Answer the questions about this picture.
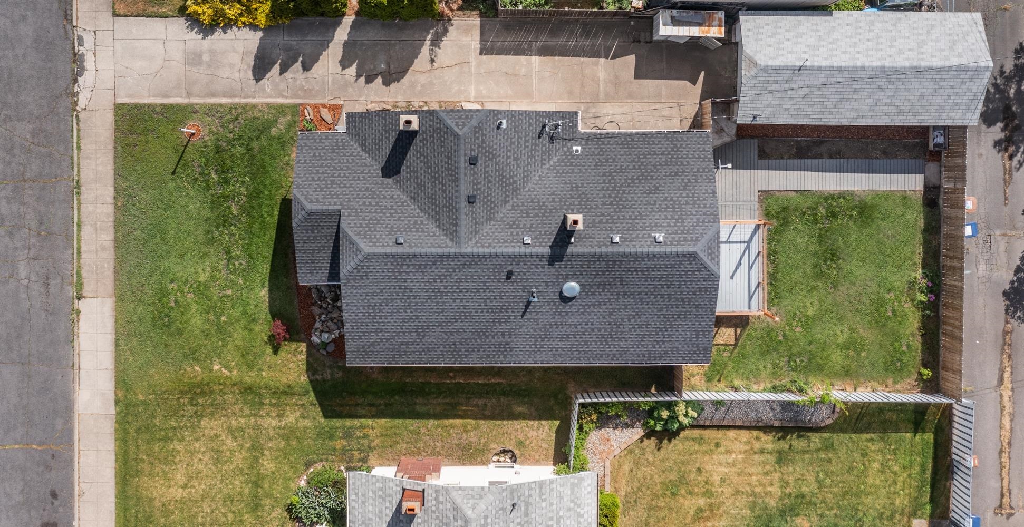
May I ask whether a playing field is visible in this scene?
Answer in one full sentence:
No, no playing field can be seen from above.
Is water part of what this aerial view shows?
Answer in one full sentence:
No, there is no water in the image.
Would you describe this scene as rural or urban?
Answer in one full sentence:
The area is urban.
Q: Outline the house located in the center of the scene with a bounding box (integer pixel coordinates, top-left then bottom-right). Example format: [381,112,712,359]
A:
[290,105,724,367]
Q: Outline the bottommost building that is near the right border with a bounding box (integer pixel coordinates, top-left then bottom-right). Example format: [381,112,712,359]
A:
[730,11,993,124]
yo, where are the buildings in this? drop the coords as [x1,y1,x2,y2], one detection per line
[290,105,724,367]
[345,457,600,527]
[652,9,725,53]
[730,11,993,124]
